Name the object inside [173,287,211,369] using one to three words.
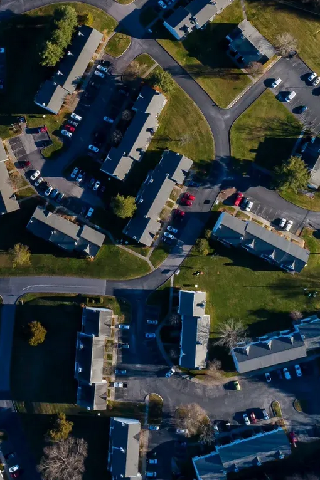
building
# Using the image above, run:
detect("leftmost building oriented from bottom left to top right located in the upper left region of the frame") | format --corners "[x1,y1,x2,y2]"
[35,24,105,113]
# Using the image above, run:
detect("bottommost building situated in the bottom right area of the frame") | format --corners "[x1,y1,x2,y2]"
[192,425,289,480]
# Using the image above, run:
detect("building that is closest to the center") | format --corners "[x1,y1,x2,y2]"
[125,149,194,246]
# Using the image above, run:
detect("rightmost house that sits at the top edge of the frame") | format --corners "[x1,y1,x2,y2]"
[227,19,278,68]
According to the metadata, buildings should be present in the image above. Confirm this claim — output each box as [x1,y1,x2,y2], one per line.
[162,0,228,40]
[0,136,20,215]
[212,209,311,272]
[27,204,106,256]
[227,19,278,68]
[111,416,144,480]
[232,316,320,374]
[125,149,194,246]
[299,136,320,187]
[192,425,289,480]
[173,287,211,369]
[35,24,105,113]
[101,88,165,180]
[76,306,114,411]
